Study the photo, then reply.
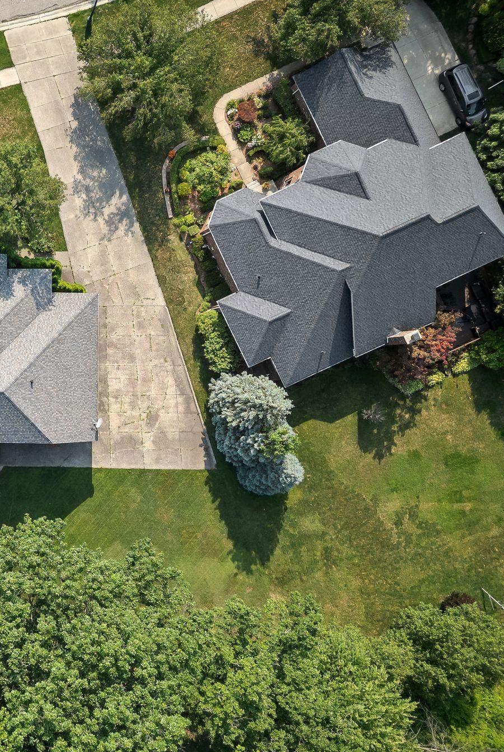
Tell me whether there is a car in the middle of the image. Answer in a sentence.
No, no car appears in the middle of the image.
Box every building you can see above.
[0,253,103,444]
[197,41,504,389]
